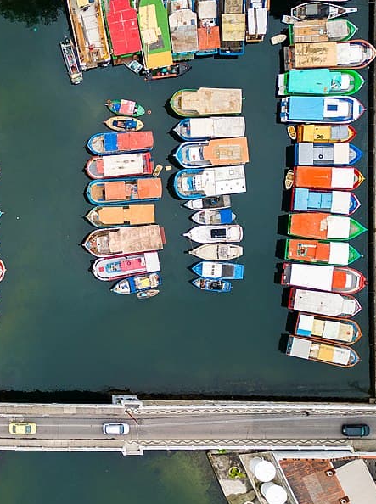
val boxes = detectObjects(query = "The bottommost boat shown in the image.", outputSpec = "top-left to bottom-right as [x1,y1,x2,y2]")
[283,337,376,365]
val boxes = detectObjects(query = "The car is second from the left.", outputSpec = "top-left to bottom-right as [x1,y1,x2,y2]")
[101,422,130,436]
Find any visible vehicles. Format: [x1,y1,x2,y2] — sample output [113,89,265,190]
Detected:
[101,422,130,436]
[8,422,37,436]
[340,423,371,438]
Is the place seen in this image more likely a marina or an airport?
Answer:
marina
